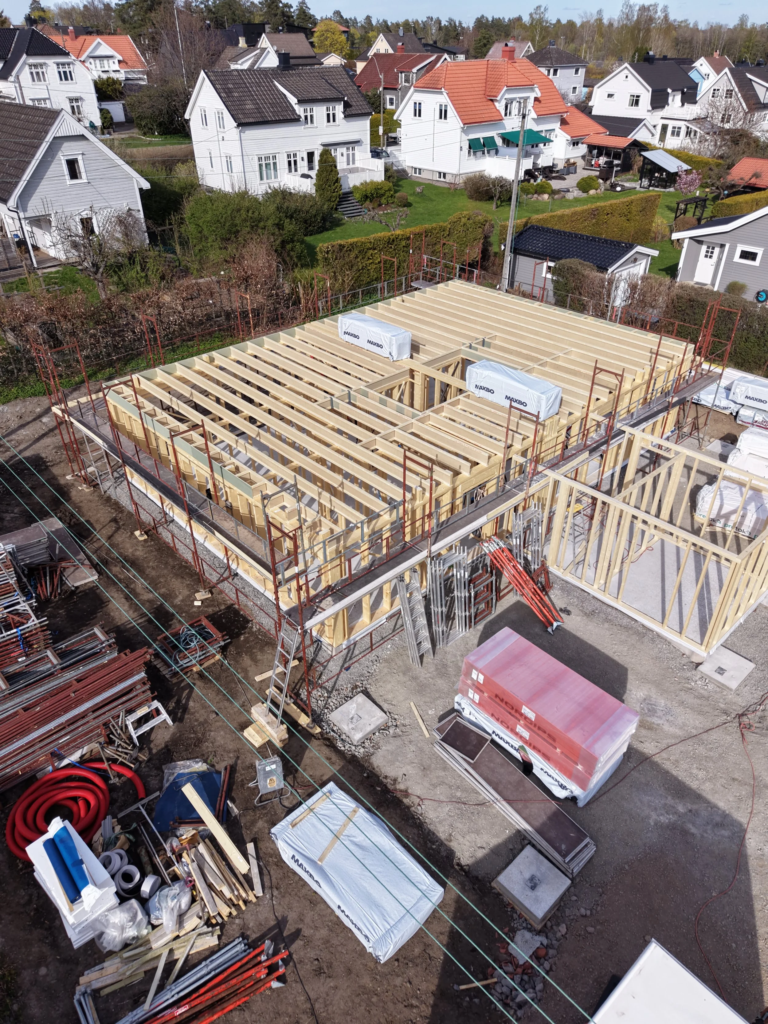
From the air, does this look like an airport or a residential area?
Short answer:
residential area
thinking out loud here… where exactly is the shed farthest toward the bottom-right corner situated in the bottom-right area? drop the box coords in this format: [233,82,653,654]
[593,940,749,1024]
